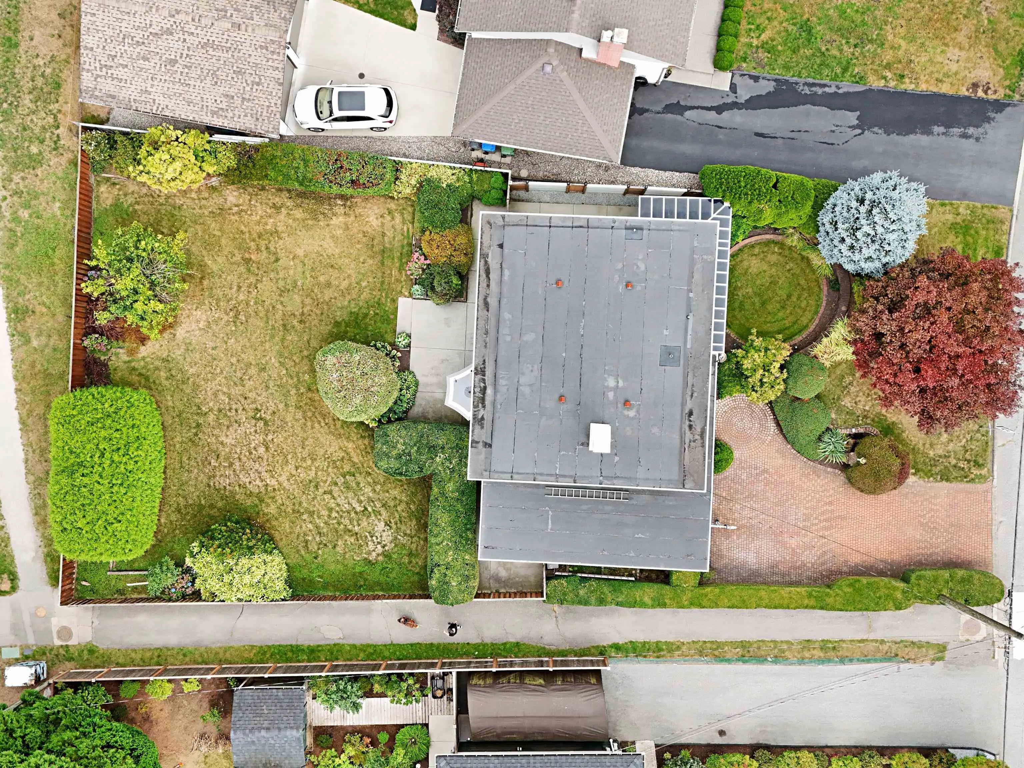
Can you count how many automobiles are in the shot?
1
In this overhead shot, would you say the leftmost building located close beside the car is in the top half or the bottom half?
top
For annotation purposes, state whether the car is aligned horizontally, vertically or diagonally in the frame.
horizontally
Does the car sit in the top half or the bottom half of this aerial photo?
top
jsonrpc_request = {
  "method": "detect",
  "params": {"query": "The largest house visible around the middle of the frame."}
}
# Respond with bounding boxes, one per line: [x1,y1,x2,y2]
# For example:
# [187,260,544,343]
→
[466,211,720,573]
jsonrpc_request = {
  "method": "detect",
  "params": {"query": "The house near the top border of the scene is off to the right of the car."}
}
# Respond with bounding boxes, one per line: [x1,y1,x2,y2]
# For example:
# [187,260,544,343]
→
[448,0,699,169]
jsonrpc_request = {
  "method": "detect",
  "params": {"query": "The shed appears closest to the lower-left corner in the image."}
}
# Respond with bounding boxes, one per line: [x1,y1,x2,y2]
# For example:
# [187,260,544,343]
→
[230,677,312,768]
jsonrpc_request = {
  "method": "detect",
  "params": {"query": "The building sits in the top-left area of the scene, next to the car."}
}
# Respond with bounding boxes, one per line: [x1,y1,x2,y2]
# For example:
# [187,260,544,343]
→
[79,0,309,147]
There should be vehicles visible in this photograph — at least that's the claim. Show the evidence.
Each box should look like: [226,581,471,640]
[292,80,399,132]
